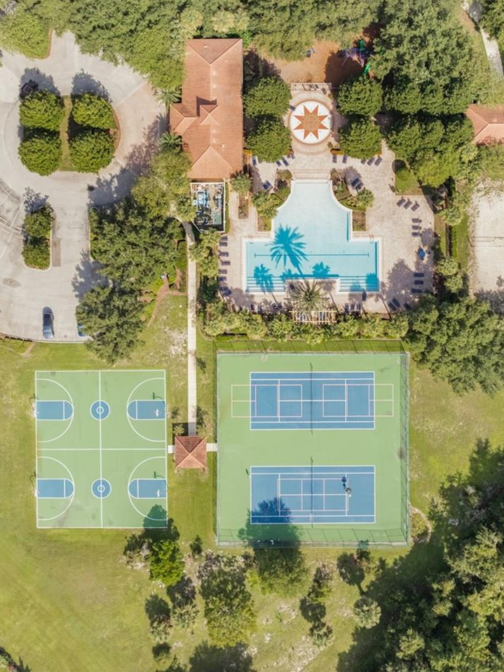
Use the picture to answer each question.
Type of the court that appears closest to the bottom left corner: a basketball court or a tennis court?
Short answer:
basketball court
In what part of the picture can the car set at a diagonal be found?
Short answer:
top left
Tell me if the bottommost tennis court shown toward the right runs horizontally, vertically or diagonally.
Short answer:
horizontally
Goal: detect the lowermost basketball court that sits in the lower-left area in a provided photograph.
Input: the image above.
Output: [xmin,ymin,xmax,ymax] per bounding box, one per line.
[36,450,167,529]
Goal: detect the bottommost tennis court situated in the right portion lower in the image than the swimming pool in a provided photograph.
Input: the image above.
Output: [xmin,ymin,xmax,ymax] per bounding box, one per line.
[217,448,409,542]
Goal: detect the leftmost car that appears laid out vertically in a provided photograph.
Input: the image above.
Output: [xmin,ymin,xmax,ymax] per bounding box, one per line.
[42,312,54,337]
